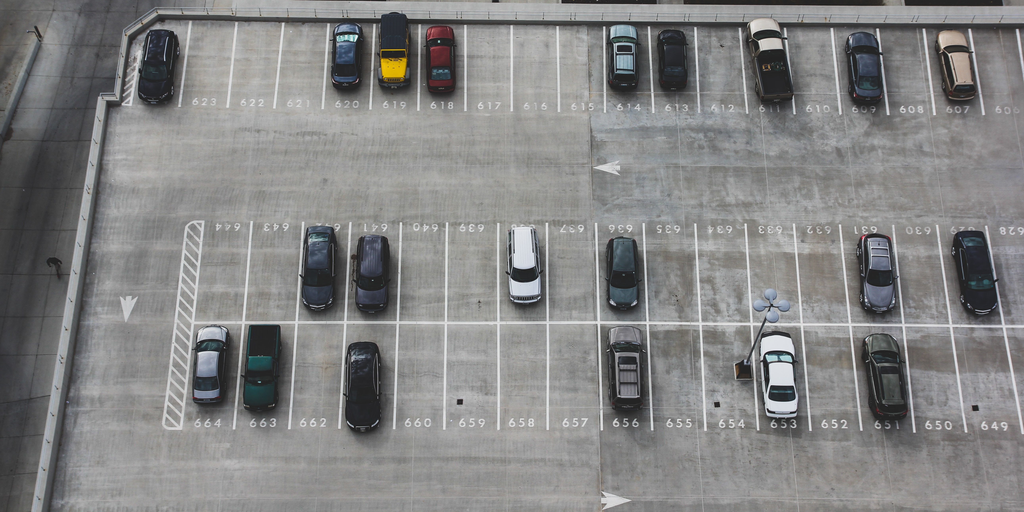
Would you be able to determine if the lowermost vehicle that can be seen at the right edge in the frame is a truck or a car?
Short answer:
car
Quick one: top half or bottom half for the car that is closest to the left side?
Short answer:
top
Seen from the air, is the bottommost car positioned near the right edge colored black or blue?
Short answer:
black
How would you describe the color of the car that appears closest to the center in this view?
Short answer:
white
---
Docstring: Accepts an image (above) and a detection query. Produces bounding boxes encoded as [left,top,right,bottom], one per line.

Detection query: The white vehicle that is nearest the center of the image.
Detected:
[504,226,545,305]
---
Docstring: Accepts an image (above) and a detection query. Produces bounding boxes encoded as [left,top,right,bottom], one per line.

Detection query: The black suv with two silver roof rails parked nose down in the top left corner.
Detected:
[134,29,179,105]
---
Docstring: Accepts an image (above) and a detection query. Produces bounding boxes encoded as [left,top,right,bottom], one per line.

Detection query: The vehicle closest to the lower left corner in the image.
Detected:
[191,325,231,404]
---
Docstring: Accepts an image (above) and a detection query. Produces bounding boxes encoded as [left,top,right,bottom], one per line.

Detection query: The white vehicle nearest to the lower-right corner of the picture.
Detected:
[759,330,799,419]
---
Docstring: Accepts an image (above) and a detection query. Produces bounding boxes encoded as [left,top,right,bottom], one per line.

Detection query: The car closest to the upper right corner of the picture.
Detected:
[934,30,977,100]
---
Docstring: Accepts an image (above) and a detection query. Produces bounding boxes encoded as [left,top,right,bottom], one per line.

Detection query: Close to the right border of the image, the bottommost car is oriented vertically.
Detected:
[952,230,1001,317]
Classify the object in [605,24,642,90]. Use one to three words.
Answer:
car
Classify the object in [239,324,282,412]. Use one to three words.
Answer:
truck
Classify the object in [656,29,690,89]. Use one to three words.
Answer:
car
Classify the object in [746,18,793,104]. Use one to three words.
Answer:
truck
